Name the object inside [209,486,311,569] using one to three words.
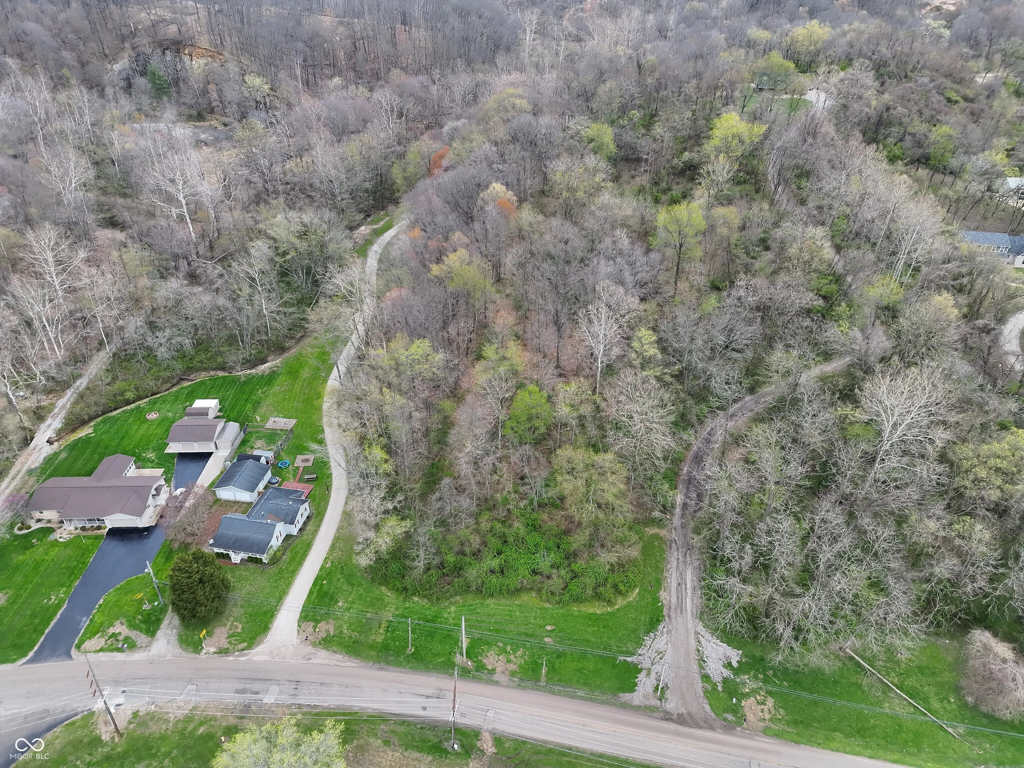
house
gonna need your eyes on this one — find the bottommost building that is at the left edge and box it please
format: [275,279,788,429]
[28,452,172,532]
